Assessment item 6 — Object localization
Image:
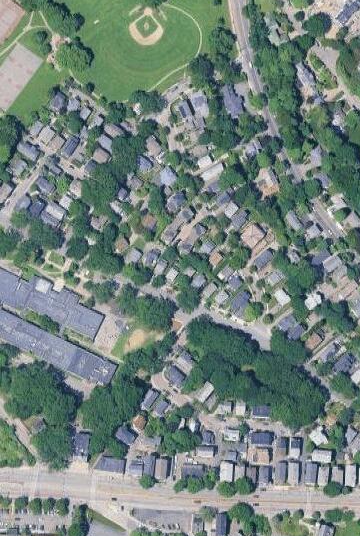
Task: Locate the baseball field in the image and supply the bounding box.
[96,2,199,95]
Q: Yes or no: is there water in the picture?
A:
No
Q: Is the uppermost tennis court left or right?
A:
left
